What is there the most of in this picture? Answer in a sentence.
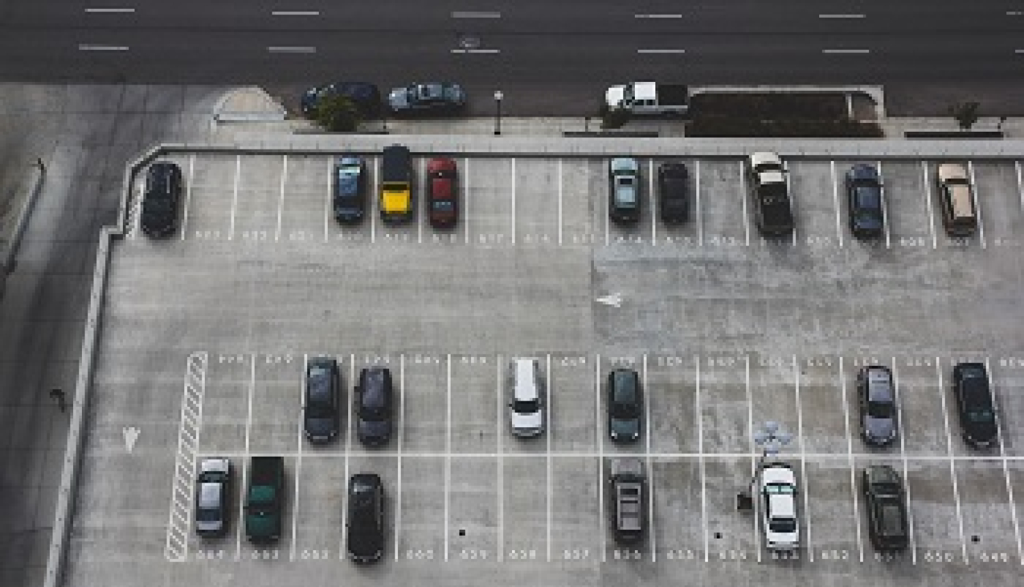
The scene is dominated by buildings.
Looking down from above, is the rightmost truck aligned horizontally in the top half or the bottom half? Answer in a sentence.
The rightmost truck aligned horizontally sits in the top half of the picture.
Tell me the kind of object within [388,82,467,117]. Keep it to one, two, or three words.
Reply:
car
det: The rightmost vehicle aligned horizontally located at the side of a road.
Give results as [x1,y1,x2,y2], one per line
[605,79,690,117]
